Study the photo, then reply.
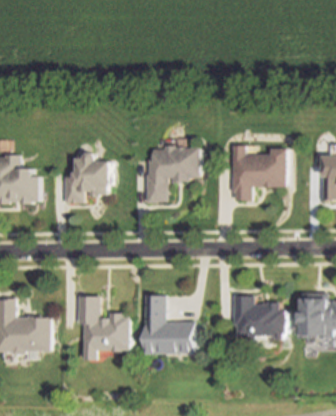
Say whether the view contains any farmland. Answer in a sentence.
Yes, the picture does contain farmland.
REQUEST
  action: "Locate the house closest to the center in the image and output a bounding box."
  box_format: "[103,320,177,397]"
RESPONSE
[145,138,202,204]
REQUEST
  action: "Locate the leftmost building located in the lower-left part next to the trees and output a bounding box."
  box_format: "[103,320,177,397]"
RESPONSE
[0,298,54,354]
